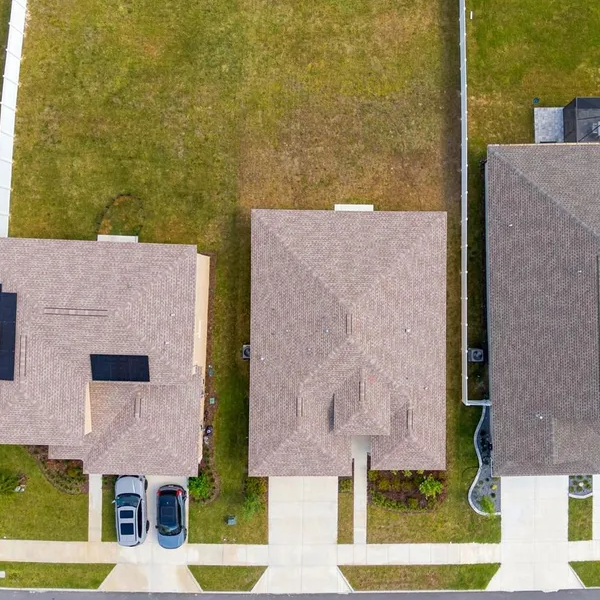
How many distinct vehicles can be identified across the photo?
two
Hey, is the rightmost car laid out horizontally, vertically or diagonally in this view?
vertically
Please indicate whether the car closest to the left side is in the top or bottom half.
bottom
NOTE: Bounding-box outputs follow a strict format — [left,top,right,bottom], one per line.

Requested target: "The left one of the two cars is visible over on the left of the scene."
[112,474,152,547]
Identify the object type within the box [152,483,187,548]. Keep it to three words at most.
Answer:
car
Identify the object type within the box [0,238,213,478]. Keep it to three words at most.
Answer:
house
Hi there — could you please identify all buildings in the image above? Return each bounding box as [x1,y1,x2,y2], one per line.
[248,209,449,478]
[0,238,213,478]
[485,142,600,478]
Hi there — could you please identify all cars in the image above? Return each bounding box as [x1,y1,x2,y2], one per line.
[152,483,187,548]
[112,474,152,547]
